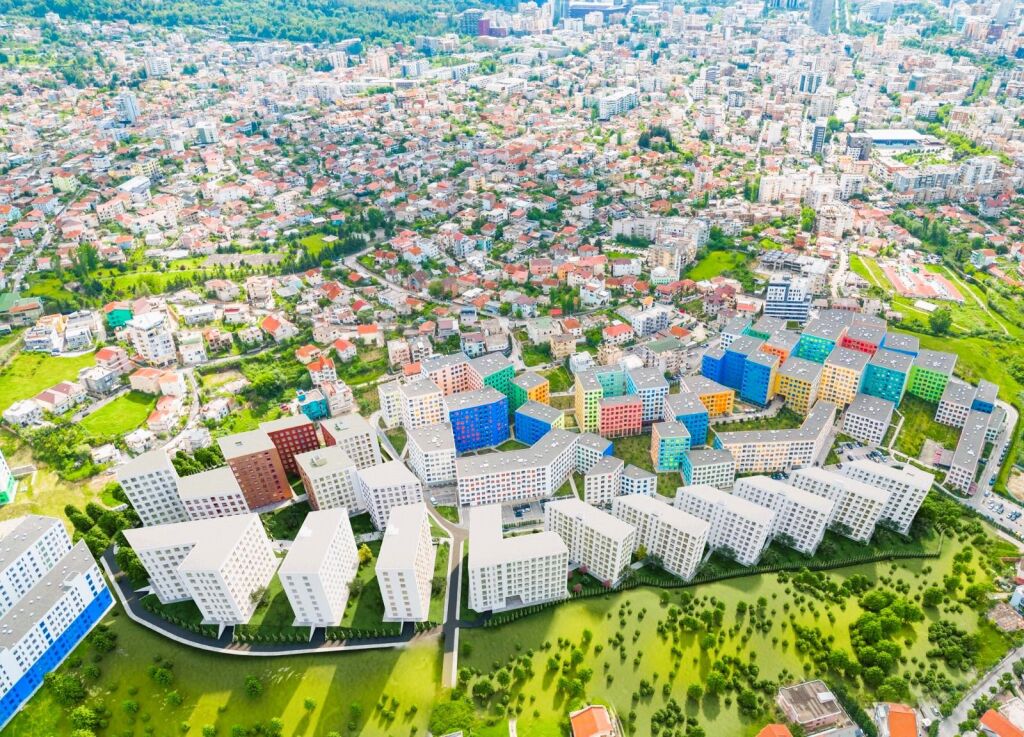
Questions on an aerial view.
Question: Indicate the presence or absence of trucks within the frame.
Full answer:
No, this view has no truck in it.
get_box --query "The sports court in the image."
[917,440,954,466]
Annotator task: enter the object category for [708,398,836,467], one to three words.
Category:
building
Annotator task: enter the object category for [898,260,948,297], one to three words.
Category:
shed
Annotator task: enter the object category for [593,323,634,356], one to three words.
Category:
house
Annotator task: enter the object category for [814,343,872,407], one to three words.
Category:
building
